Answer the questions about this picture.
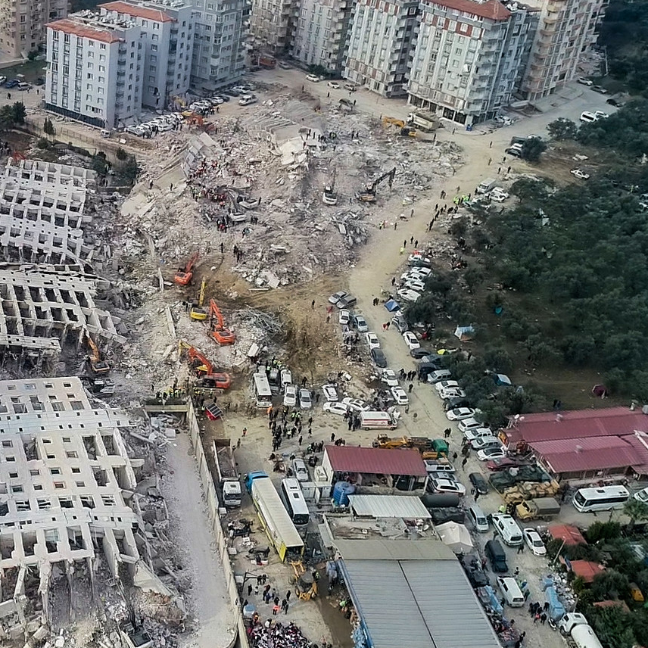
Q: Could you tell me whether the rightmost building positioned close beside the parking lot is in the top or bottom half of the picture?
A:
top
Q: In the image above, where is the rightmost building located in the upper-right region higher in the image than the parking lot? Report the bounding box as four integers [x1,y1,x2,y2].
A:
[511,0,611,92]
